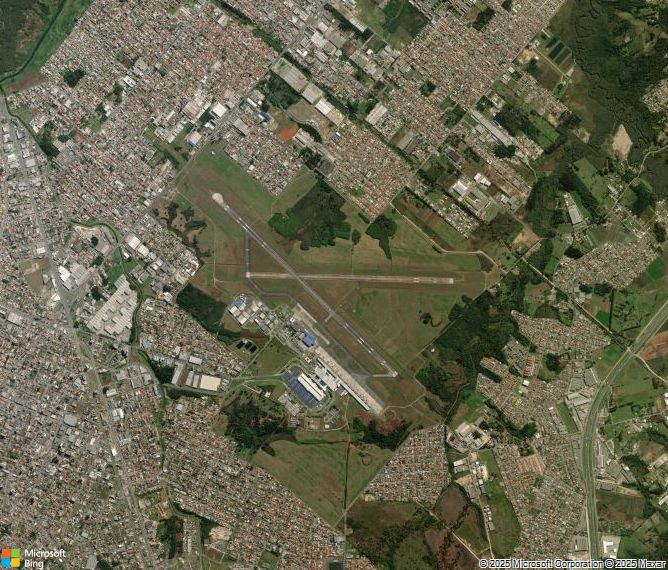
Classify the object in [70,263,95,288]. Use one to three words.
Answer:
building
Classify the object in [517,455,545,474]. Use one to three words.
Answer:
building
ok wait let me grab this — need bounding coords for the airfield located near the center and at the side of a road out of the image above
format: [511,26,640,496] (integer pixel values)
[153,147,496,523]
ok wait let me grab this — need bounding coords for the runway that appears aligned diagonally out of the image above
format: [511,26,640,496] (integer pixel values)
[221,203,397,376]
